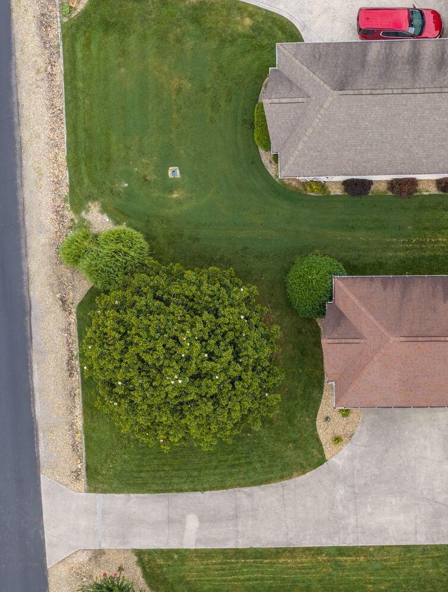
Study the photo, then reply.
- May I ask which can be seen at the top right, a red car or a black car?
red car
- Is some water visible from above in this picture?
No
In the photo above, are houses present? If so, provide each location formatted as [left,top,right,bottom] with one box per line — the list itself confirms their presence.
[321,272,448,409]
[263,40,448,185]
